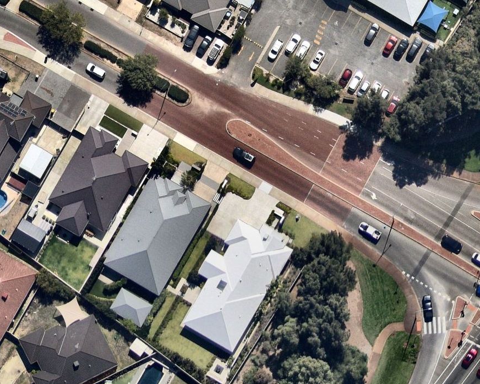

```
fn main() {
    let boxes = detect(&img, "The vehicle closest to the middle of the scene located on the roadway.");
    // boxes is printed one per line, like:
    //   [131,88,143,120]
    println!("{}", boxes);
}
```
[231,147,256,164]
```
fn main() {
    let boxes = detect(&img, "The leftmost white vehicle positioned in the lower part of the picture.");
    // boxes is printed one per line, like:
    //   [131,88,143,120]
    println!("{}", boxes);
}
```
[358,223,382,241]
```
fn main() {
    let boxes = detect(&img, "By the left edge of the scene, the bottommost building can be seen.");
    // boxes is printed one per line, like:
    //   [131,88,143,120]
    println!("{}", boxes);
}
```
[19,315,118,384]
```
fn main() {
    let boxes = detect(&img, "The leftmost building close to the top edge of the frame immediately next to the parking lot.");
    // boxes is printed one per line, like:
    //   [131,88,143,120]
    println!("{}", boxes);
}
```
[164,0,231,33]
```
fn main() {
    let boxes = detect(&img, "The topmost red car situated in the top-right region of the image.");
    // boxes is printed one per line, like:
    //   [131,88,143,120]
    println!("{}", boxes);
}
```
[382,34,397,56]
